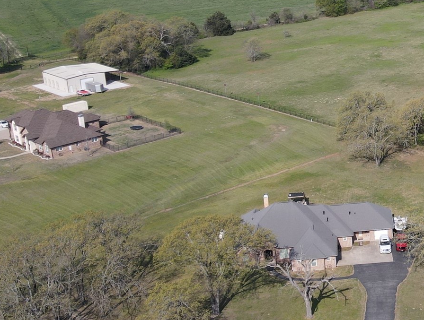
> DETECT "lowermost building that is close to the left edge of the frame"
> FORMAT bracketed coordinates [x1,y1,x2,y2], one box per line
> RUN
[9,107,105,158]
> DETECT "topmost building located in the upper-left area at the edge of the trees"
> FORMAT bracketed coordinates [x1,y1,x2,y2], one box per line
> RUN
[42,63,120,93]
